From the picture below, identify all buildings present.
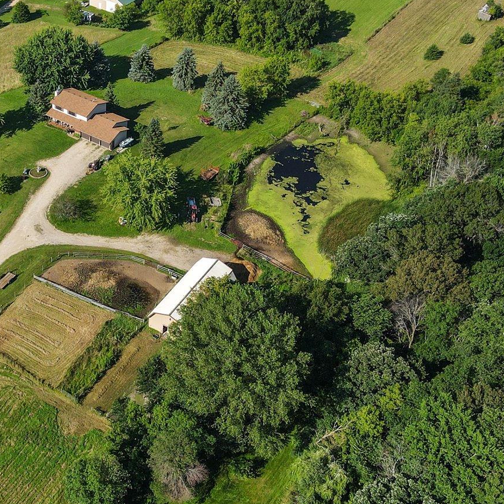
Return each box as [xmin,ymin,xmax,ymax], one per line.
[90,0,139,12]
[478,5,499,21]
[148,258,236,342]
[48,86,126,151]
